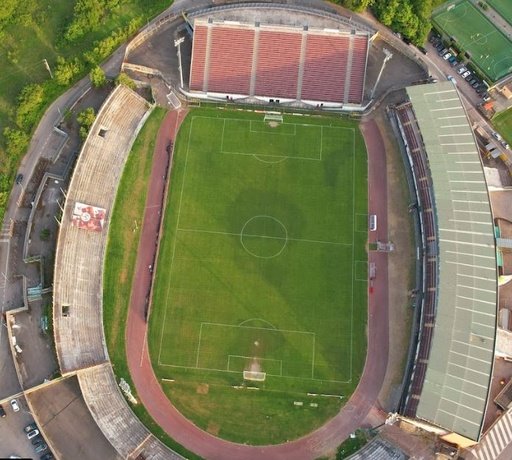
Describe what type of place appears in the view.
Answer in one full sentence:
The area seen from above is a sports ground.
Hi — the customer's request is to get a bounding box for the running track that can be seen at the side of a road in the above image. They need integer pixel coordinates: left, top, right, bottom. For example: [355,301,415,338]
[124,106,390,460]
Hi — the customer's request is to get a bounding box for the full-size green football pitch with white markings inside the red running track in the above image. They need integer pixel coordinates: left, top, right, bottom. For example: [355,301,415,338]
[149,102,368,446]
